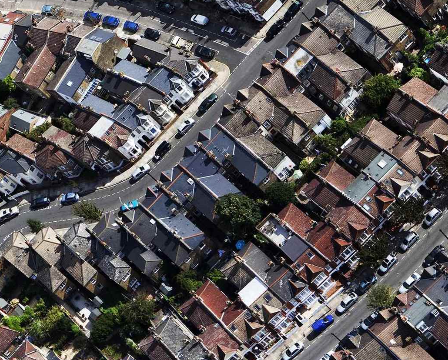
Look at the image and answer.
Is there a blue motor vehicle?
Yes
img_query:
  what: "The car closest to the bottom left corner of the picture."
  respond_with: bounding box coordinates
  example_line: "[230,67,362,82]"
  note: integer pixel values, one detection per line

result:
[0,207,19,223]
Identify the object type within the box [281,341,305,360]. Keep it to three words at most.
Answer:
car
